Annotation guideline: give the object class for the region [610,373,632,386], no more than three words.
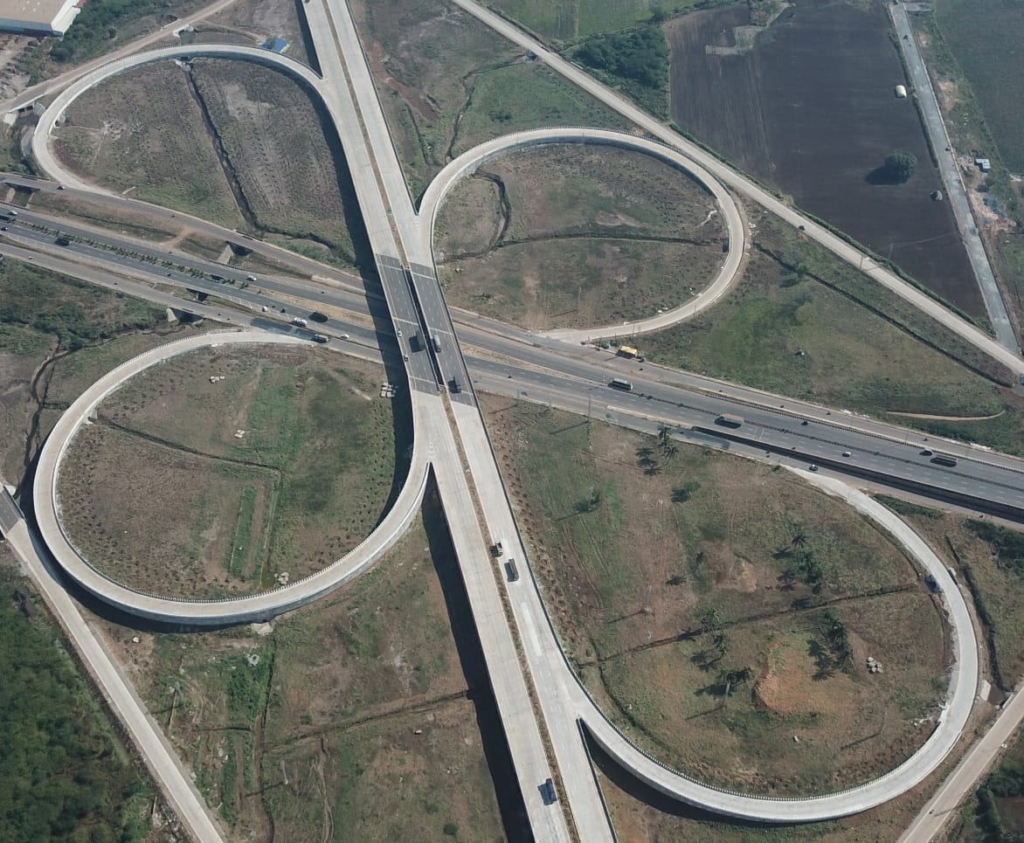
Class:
vehicle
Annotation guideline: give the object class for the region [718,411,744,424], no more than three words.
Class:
vehicle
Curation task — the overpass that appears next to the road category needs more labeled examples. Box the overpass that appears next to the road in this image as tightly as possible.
[301,0,618,843]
